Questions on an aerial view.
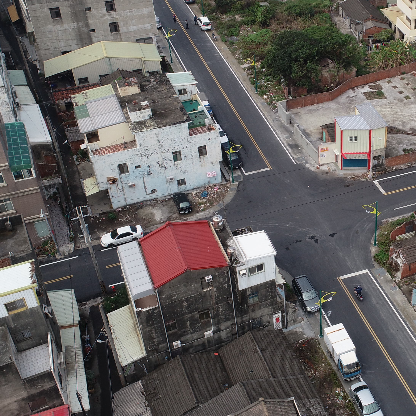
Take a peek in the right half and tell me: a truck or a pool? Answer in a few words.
truck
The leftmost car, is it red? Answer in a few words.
No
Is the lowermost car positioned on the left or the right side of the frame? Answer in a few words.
right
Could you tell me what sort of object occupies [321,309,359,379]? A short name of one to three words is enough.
truck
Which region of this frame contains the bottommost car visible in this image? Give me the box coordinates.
[350,379,383,416]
